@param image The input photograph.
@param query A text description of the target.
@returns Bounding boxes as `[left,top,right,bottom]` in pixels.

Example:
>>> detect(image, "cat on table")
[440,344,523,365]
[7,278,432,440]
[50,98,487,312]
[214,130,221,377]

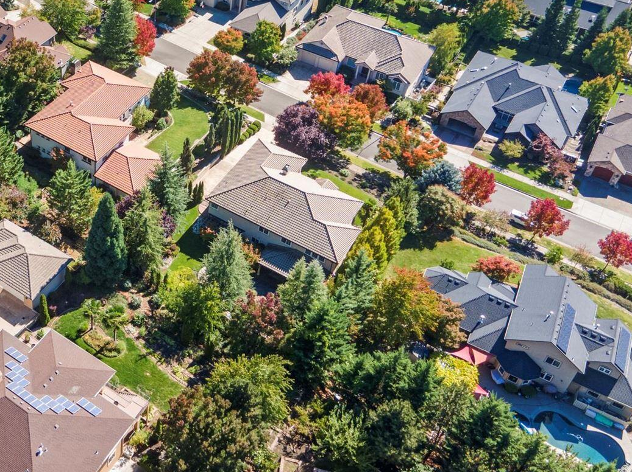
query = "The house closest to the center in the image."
[206,137,365,279]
